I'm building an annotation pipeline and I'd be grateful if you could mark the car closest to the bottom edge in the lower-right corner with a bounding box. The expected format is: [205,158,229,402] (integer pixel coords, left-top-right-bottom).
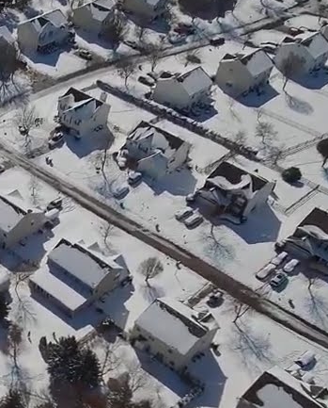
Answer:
[294,350,314,368]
